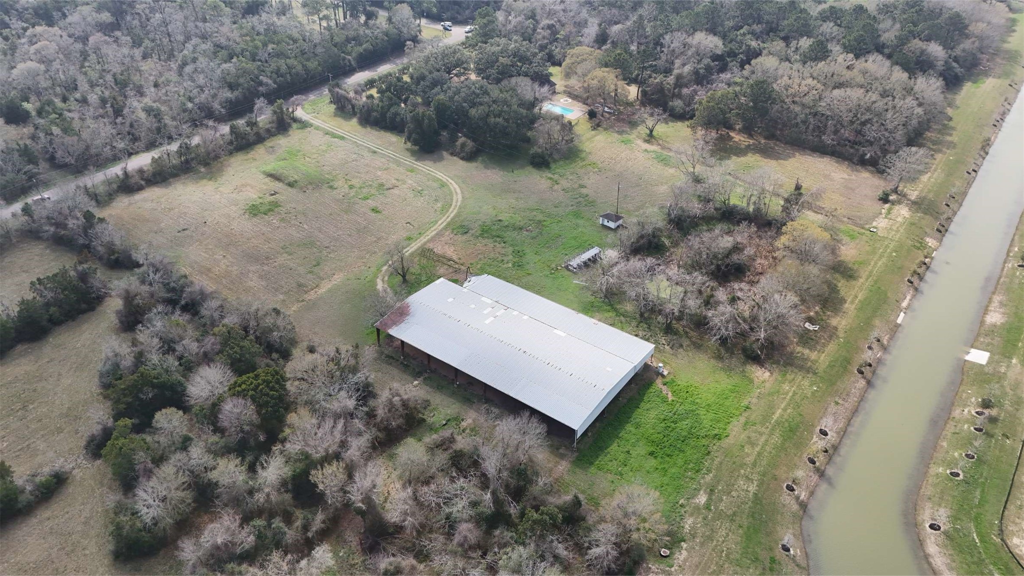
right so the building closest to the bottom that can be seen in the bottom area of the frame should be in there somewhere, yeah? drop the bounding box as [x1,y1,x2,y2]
[374,265,657,449]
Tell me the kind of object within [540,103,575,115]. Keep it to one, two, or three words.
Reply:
swimming pool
